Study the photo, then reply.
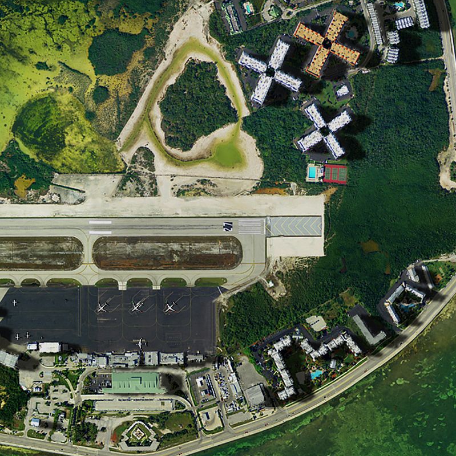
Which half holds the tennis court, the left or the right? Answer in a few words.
right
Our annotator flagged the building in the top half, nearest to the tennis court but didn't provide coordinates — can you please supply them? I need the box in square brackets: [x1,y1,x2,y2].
[300,104,353,157]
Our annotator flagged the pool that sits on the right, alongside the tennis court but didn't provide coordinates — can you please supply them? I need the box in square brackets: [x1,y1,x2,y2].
[306,164,322,182]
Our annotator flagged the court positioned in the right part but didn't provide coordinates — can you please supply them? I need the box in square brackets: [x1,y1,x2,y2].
[323,164,347,185]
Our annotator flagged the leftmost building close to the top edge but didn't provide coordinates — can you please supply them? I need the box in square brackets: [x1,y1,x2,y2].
[225,3,244,34]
